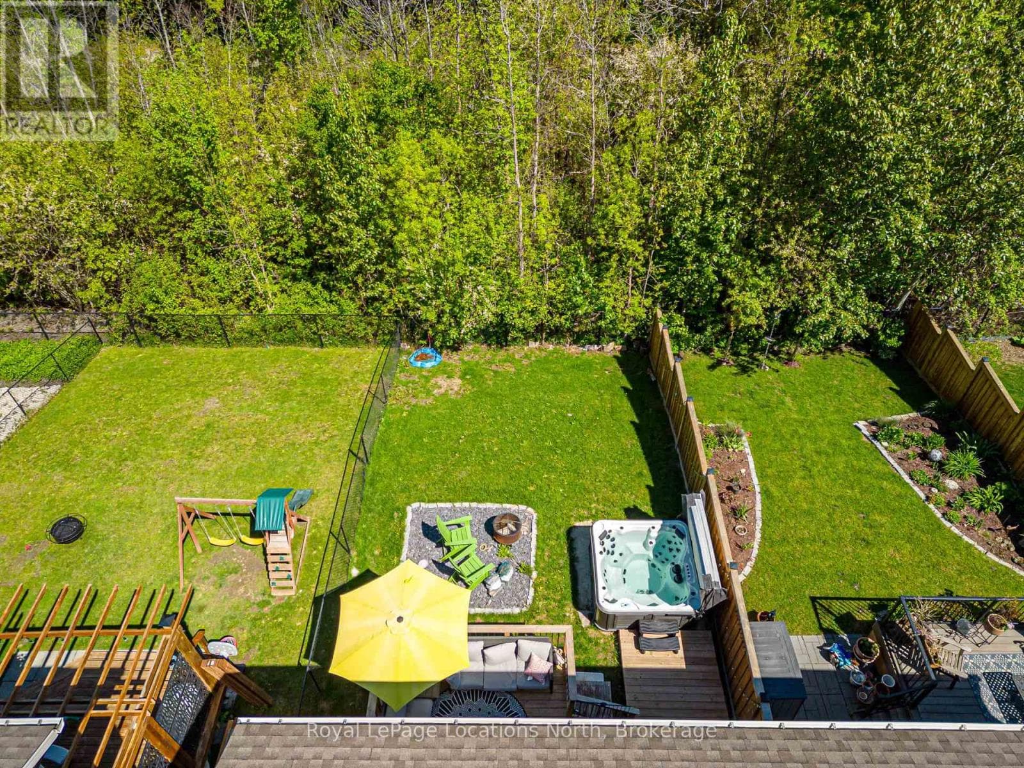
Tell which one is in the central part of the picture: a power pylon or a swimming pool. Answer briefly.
swimming pool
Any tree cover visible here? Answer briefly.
Yes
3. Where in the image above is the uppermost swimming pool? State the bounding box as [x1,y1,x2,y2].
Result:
[409,344,444,368]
